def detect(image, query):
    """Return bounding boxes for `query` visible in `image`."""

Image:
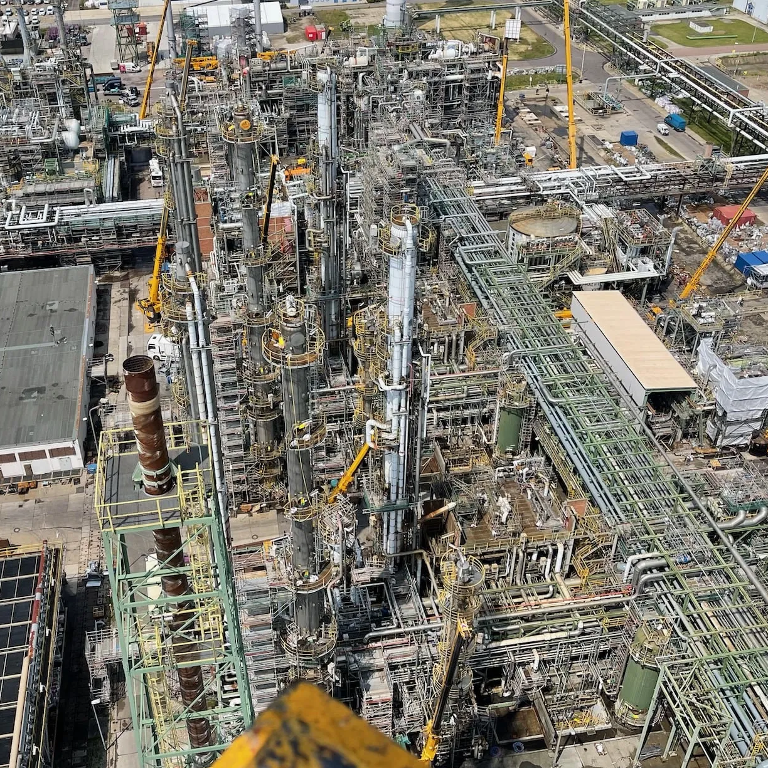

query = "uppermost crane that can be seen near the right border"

[657,165,768,303]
